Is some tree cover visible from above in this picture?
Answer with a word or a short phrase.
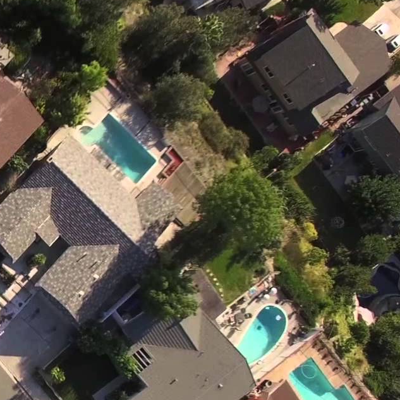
Yes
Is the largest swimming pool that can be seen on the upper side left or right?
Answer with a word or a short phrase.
left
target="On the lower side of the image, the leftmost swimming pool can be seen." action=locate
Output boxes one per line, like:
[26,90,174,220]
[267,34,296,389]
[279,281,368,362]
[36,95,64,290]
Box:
[243,303,290,364]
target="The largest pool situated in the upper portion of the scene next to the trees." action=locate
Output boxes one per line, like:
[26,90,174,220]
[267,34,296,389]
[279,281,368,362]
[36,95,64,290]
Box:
[77,110,160,186]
